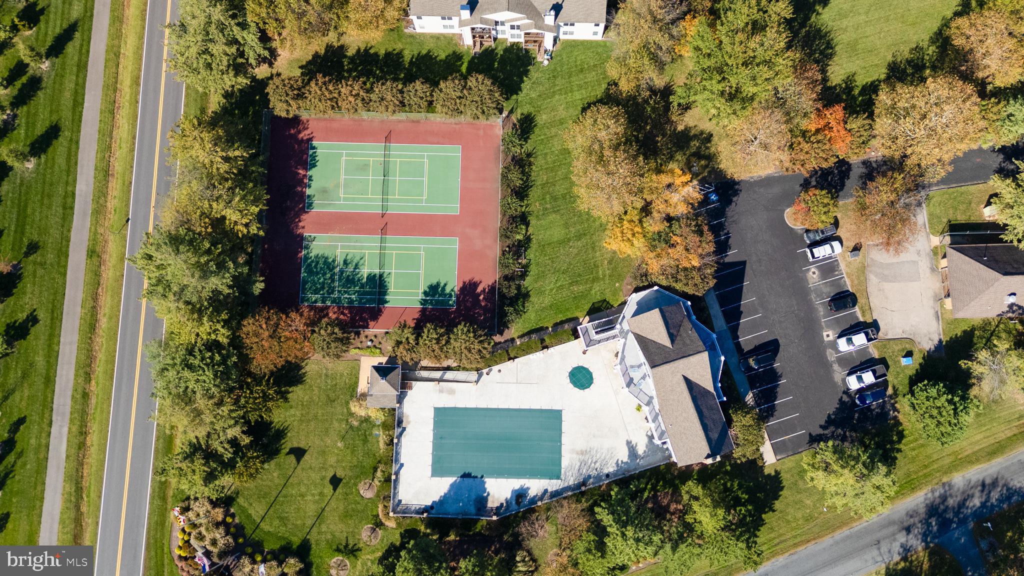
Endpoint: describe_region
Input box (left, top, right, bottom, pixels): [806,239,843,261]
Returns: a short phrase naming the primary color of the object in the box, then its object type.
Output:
white car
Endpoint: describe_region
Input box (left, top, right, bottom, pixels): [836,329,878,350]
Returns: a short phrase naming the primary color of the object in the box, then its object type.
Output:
white truck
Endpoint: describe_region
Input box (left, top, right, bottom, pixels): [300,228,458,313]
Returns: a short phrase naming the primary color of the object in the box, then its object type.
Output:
green tennis court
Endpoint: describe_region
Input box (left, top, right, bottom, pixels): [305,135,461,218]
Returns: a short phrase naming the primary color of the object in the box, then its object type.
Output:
green tennis court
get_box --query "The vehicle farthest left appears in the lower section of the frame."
[739,350,778,372]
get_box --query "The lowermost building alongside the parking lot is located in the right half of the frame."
[613,287,735,468]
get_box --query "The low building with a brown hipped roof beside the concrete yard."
[946,244,1024,318]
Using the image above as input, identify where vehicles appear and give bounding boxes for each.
[845,366,888,387]
[827,294,858,312]
[806,239,843,261]
[739,350,778,372]
[801,225,839,243]
[836,329,878,350]
[853,387,889,405]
